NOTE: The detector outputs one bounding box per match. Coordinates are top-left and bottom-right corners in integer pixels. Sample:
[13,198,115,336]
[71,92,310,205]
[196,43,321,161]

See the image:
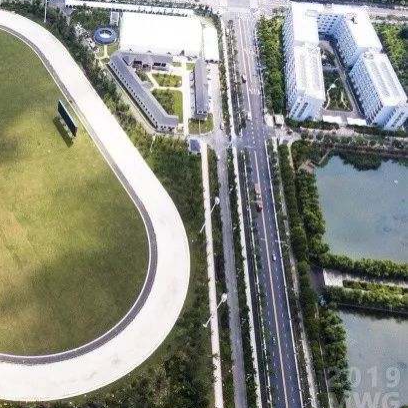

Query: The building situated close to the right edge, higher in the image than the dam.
[281,1,408,127]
